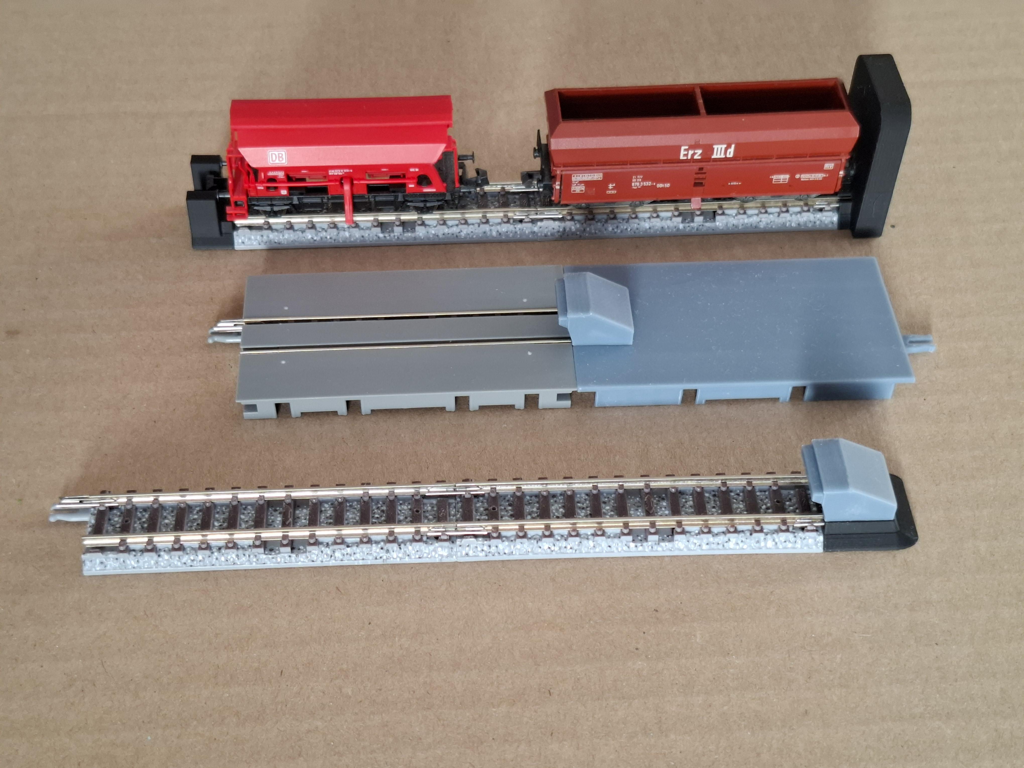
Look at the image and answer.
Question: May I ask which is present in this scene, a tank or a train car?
train car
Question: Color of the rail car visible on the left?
red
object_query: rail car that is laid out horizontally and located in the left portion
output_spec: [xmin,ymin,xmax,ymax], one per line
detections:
[207,92,485,225]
